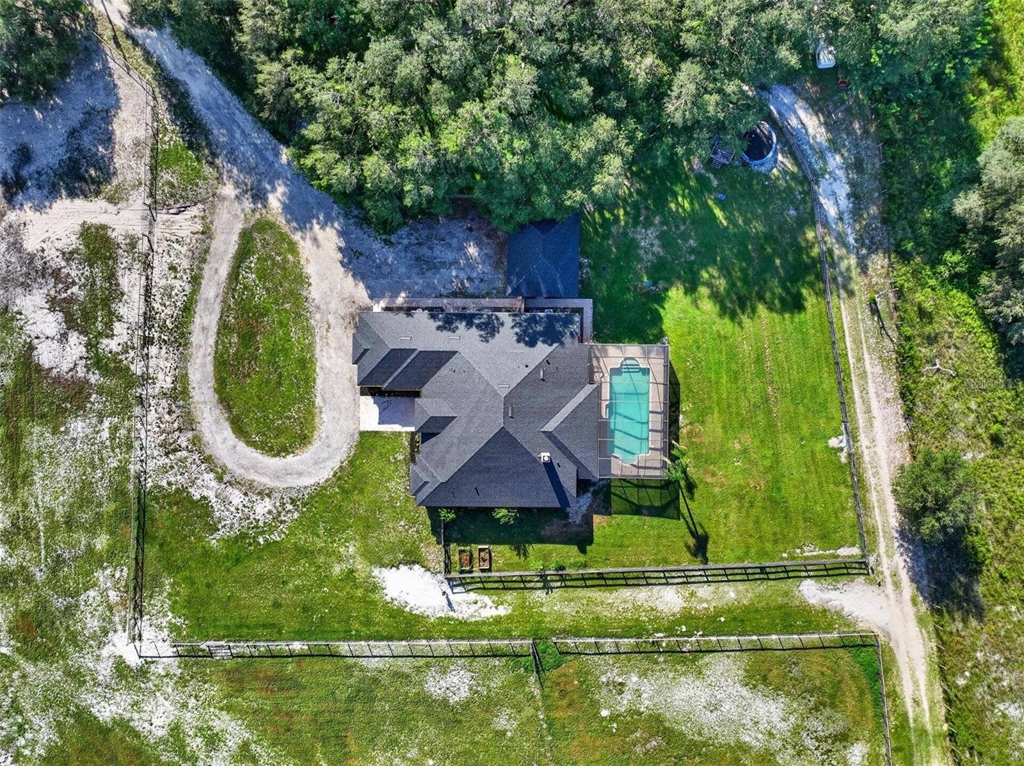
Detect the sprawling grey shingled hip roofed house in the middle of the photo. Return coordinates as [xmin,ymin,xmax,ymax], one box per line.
[352,312,598,507]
